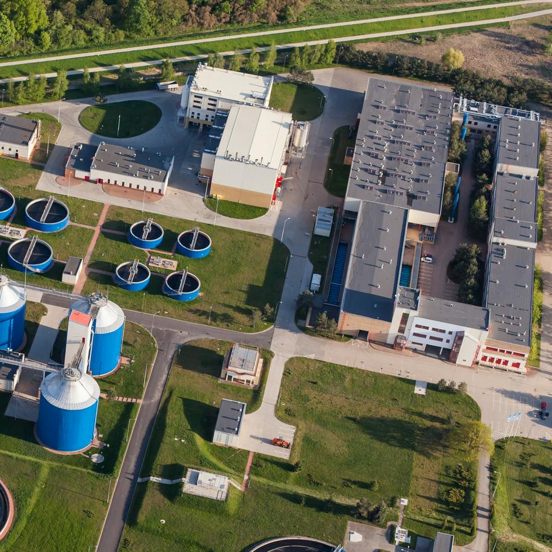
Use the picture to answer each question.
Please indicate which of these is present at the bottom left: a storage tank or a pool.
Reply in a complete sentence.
The one visible at the bottom left is a storage tank.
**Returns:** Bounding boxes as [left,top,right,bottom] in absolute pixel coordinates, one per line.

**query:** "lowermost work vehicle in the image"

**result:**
[273,437,293,451]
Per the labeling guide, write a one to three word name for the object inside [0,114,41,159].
building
